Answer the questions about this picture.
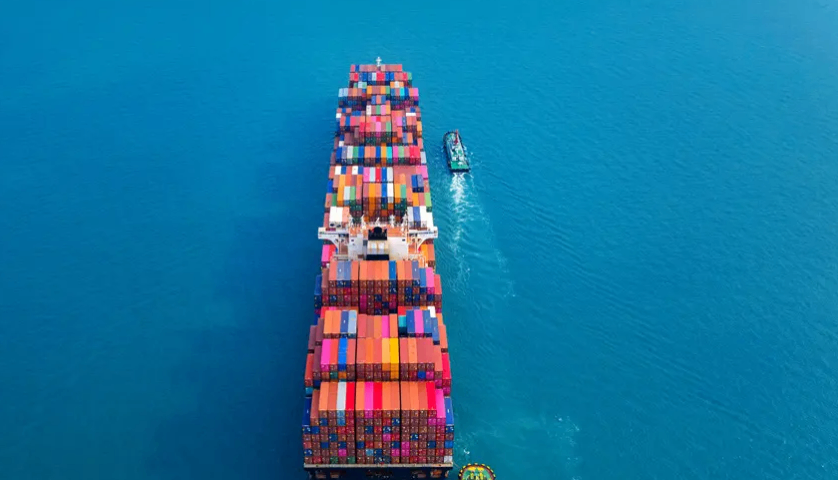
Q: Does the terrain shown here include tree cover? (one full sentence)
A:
No, no tree cover is visible.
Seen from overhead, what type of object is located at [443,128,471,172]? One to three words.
boat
